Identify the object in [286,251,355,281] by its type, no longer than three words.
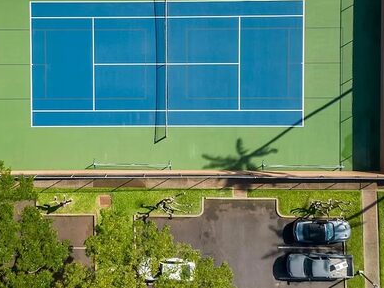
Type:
truck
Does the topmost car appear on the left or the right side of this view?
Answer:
right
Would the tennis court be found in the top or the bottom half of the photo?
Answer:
top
